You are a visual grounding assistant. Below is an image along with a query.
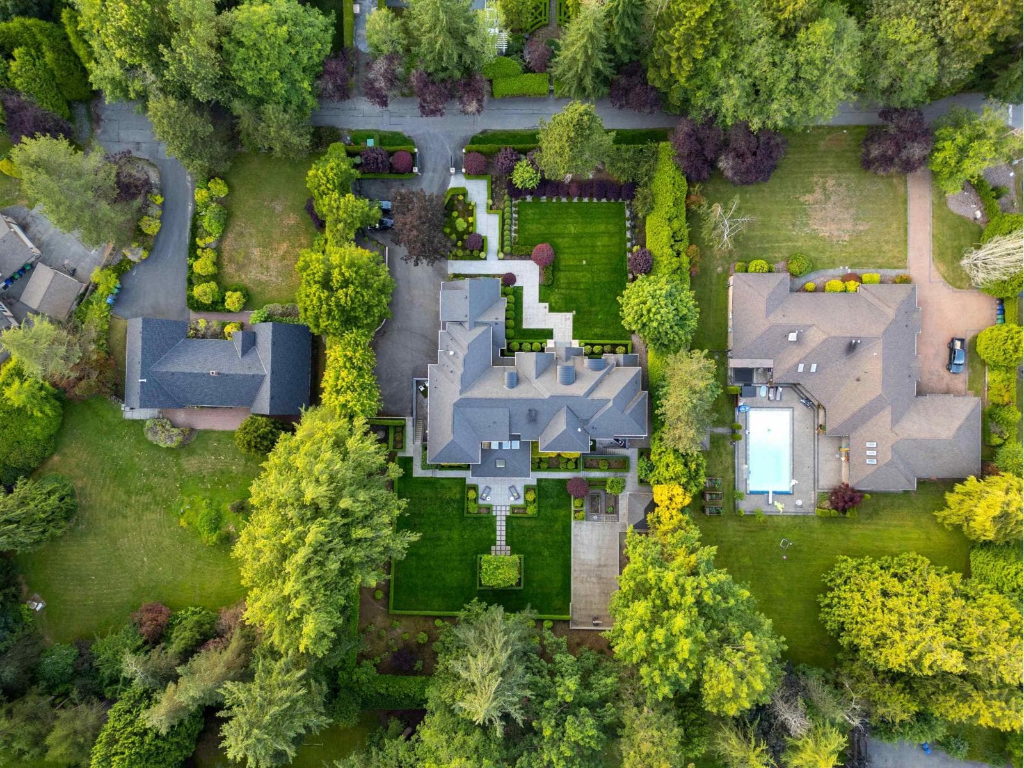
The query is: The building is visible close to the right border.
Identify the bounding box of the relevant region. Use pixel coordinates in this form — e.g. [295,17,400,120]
[730,272,981,491]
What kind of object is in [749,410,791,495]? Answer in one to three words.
swimming pool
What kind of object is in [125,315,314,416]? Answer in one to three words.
house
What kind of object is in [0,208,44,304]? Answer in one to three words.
house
